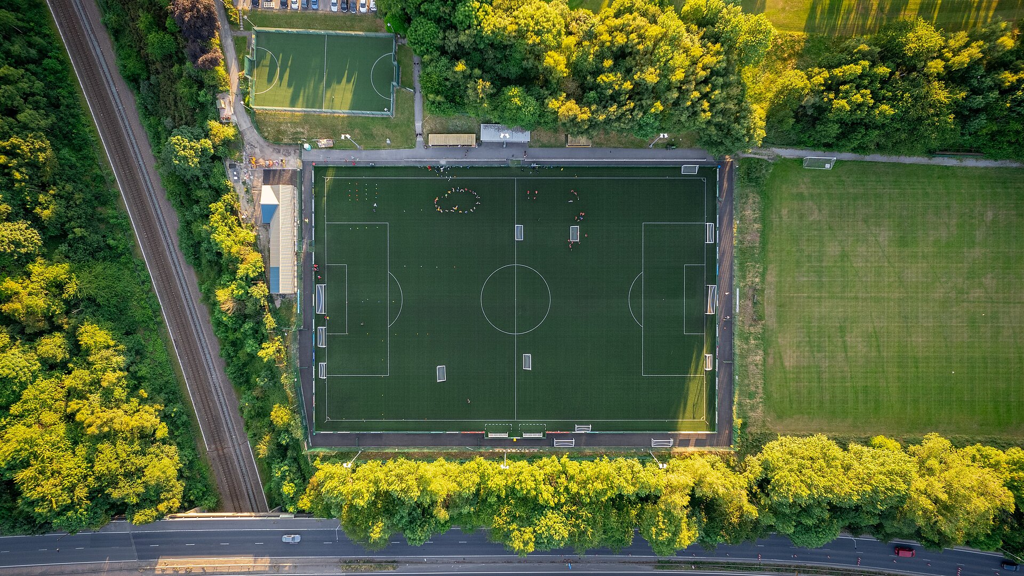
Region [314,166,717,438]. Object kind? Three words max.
soccer field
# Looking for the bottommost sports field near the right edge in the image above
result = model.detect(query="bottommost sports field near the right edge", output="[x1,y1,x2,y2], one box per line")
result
[768,161,1024,438]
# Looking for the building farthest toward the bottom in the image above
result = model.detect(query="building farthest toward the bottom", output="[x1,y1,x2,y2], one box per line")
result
[258,184,300,293]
